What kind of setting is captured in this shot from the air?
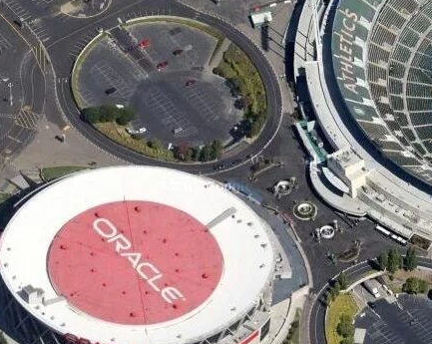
sports ground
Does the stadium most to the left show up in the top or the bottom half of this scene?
bottom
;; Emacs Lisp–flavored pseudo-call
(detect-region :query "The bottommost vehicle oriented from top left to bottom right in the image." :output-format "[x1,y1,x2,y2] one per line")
[368,280,381,294]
